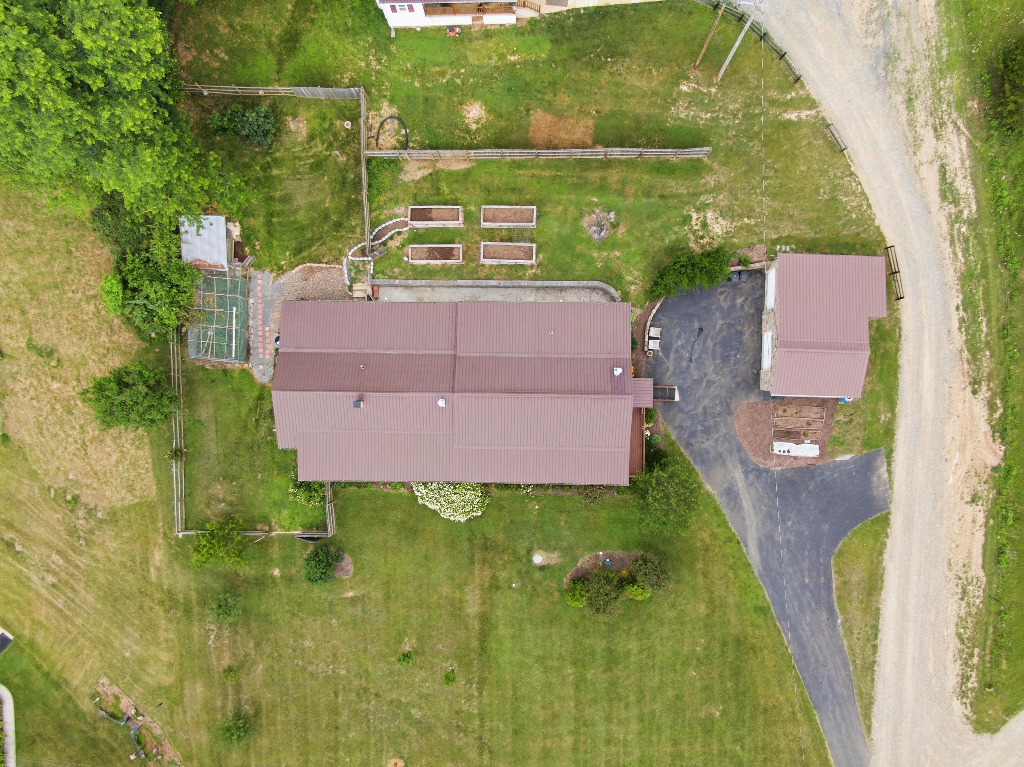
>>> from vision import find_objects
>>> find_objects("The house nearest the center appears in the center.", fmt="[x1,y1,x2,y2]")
[272,299,680,487]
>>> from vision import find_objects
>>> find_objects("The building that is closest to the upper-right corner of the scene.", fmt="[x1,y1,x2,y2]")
[761,253,886,399]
